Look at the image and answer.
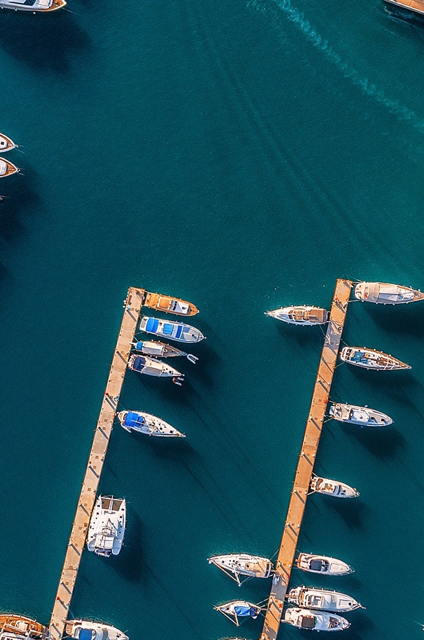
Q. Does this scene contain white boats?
Yes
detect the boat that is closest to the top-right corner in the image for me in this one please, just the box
[348,281,424,306]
